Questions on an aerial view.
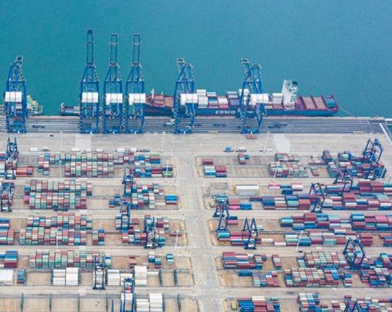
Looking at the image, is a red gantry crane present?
No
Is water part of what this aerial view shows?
Yes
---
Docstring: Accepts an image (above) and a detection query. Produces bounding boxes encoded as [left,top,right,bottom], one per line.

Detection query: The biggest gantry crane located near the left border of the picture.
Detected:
[5,58,28,133]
